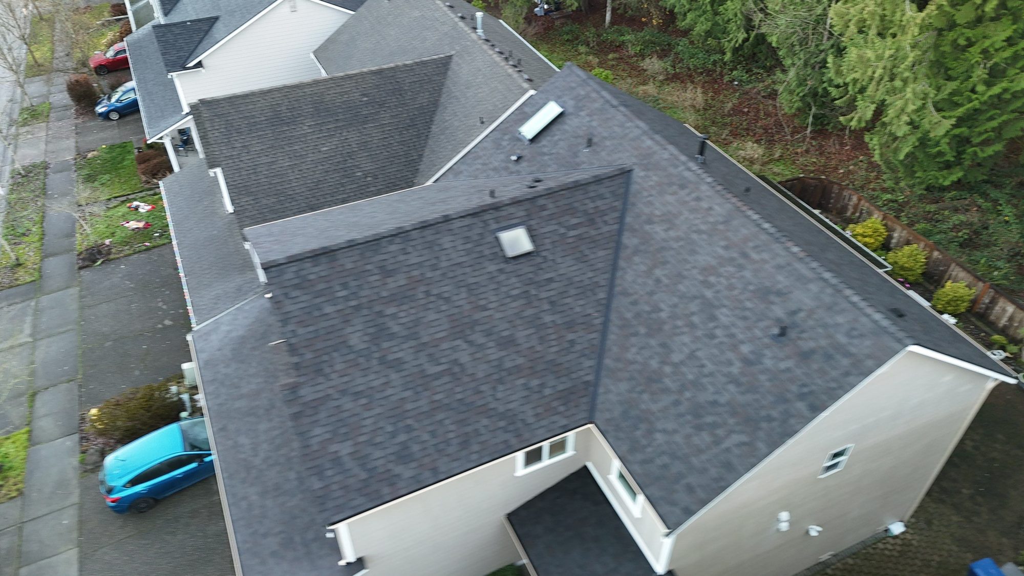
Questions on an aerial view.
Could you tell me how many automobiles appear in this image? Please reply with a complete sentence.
My tally gives 3 automobiles in this view.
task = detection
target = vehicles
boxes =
[92,413,212,519]
[91,77,138,121]
[77,36,132,76]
